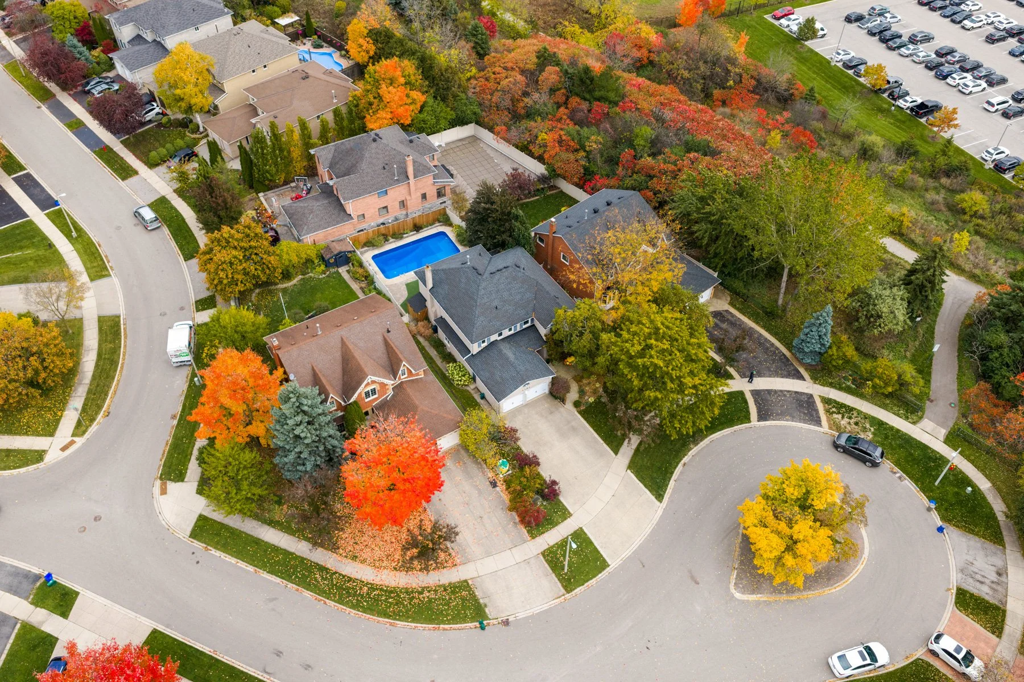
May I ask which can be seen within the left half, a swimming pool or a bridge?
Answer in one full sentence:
Visible within the left half is a swimming pool.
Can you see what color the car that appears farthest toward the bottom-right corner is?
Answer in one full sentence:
In this view, the car that appears farthest toward the bottom-right corner is white.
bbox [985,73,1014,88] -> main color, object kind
gray car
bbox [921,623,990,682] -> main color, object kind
white car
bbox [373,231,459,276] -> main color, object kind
blue swimming pool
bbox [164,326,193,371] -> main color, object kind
white truck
